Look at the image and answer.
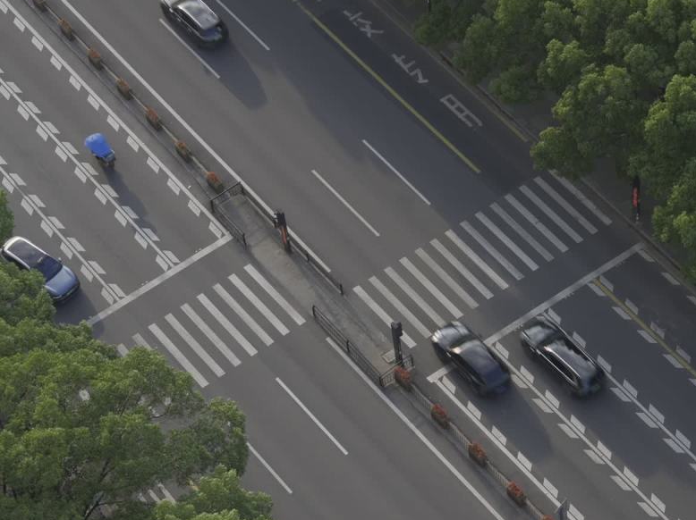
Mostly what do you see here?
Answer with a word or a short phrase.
paved ground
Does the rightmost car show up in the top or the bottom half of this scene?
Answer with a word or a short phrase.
bottom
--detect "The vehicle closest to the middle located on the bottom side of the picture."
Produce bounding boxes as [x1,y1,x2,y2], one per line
[427,316,509,394]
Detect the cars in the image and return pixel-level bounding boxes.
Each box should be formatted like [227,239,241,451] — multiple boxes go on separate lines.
[160,0,226,39]
[427,316,509,394]
[0,237,77,302]
[518,313,602,393]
